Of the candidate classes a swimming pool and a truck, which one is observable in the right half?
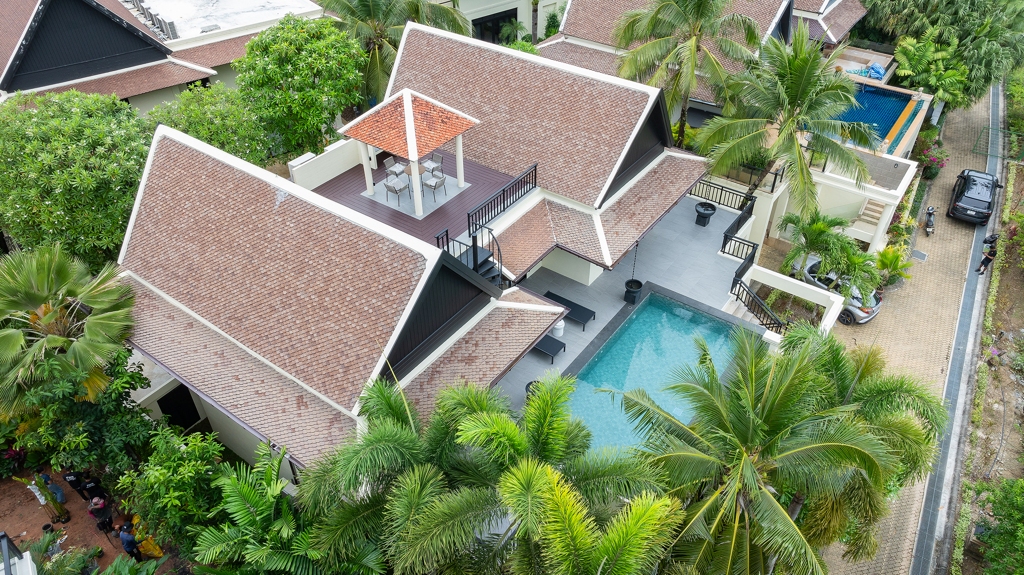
swimming pool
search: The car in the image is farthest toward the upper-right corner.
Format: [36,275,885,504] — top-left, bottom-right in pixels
[947,170,1003,225]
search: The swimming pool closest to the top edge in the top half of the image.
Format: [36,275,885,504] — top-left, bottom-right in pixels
[781,73,939,169]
